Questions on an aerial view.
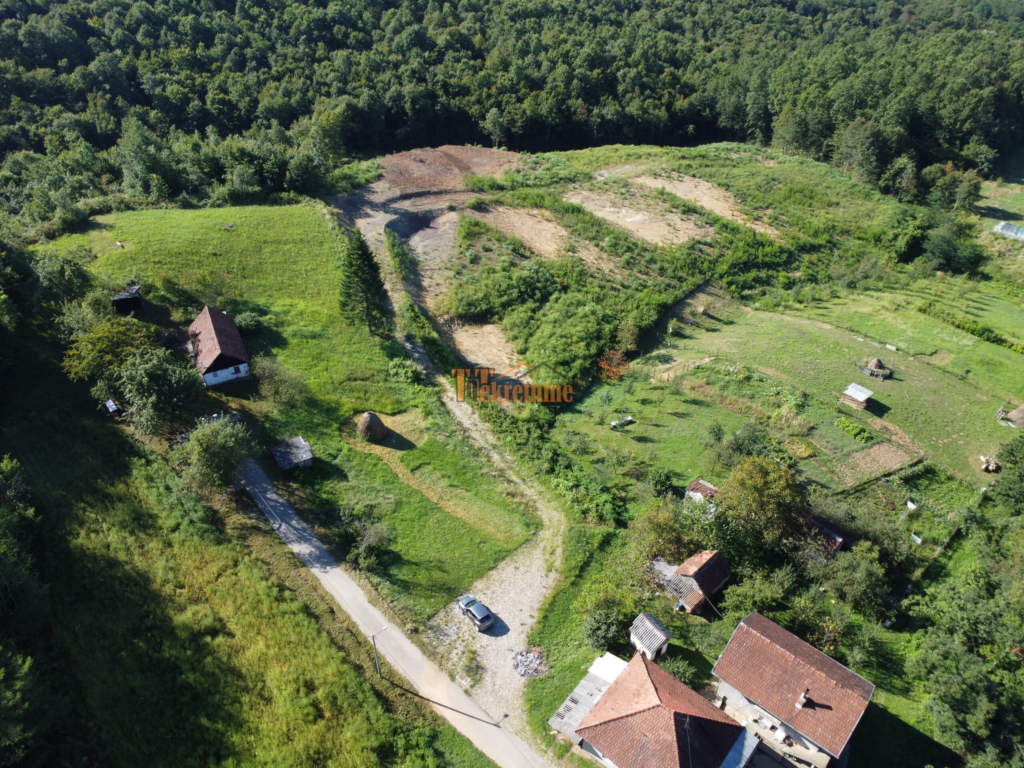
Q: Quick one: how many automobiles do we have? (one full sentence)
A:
There is 1 automobile in the image.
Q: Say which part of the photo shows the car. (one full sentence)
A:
The car appears toward the bottom of the photo.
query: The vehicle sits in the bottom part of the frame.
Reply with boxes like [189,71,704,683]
[457,598,492,637]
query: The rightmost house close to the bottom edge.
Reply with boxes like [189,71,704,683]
[710,611,877,768]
